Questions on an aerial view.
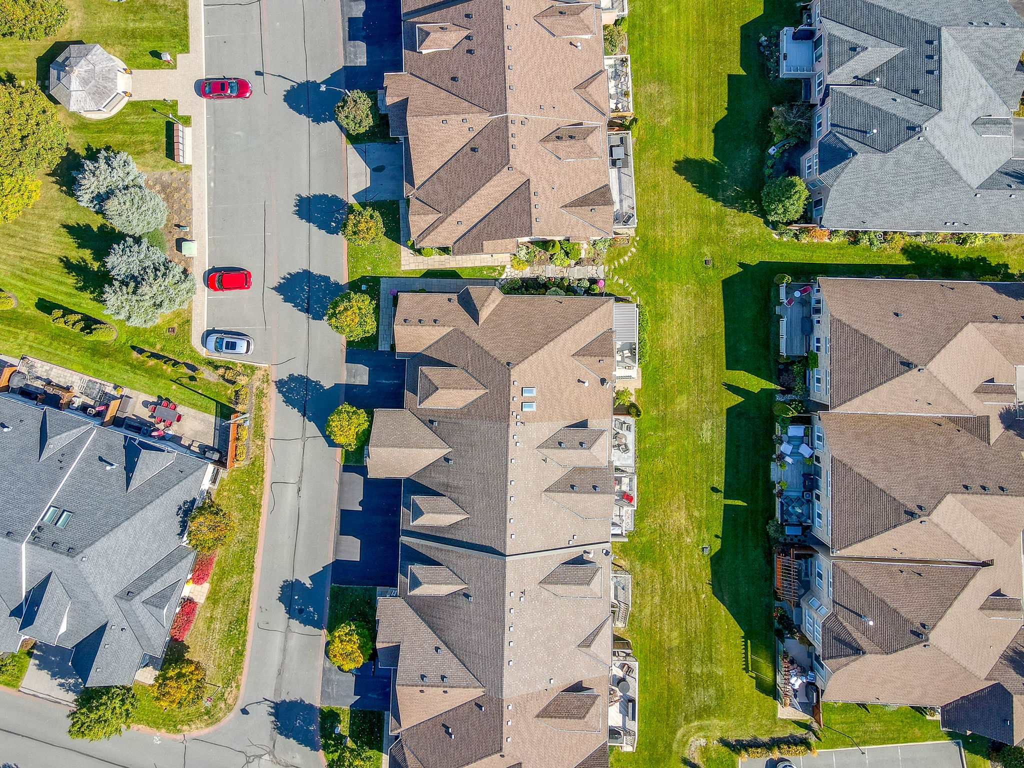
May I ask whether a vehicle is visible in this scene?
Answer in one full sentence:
Yes, you can see a vehicle in this photo.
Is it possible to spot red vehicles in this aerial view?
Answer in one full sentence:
Yes, a red vehicle appears in the view.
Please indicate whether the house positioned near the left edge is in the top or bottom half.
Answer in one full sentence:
Seen from above, the house positioned near the left edge lies in the bottom half of the view.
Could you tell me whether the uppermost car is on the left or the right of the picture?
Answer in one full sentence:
It is on the left.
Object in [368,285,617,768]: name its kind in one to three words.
house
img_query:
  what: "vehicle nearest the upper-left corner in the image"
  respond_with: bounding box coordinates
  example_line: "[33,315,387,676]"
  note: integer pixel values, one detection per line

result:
[201,75,255,102]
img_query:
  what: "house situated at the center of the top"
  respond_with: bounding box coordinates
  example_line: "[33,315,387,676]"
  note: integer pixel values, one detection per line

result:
[384,0,613,257]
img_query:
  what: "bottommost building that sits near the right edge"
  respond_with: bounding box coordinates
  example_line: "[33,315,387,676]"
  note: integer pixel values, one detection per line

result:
[796,277,1024,746]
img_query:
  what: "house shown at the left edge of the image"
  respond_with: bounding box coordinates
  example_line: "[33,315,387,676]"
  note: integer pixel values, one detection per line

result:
[0,391,217,687]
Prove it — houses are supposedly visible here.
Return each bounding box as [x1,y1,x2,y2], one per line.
[796,277,1024,746]
[0,391,217,687]
[384,0,613,257]
[794,0,1024,240]
[368,285,617,768]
